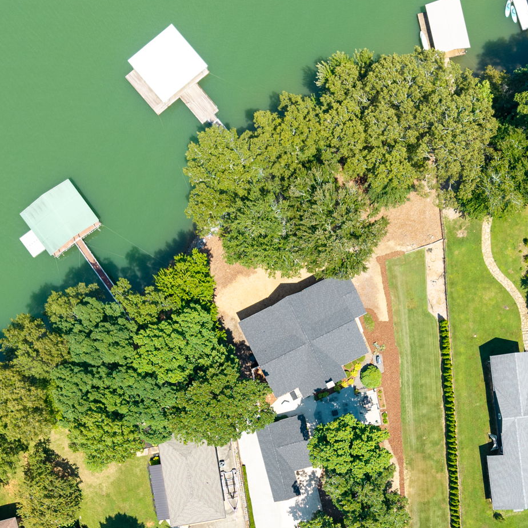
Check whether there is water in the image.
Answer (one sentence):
Yes, water shows up in the scene.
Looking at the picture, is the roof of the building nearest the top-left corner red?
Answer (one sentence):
No, from above the roof of the building nearest the top-left corner looks white.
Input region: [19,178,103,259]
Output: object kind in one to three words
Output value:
building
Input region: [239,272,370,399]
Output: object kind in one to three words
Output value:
house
